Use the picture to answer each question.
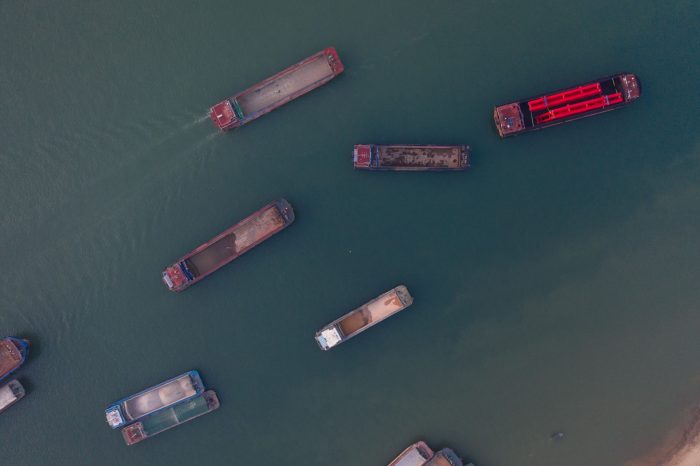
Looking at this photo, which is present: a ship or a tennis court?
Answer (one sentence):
This aerial view contains a ship.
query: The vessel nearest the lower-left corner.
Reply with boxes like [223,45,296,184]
[0,378,26,411]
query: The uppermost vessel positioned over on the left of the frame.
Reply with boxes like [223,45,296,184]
[209,46,344,132]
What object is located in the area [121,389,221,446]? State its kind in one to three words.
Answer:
ship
